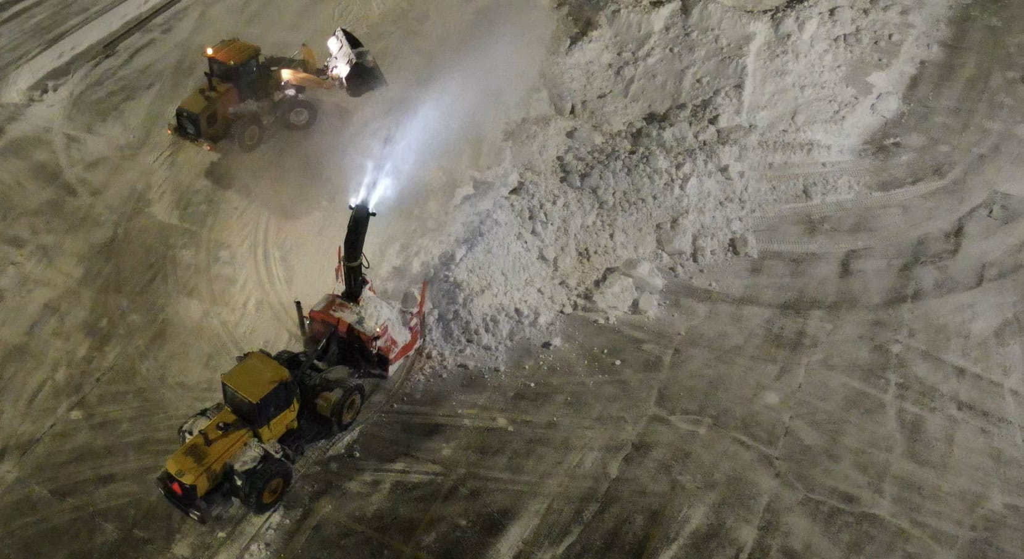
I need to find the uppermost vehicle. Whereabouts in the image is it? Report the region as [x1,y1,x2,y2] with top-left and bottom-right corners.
[169,30,394,155]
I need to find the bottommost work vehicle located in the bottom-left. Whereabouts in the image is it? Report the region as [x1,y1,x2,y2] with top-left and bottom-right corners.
[152,329,362,529]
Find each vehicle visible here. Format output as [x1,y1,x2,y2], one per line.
[169,30,394,155]
[152,329,362,529]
